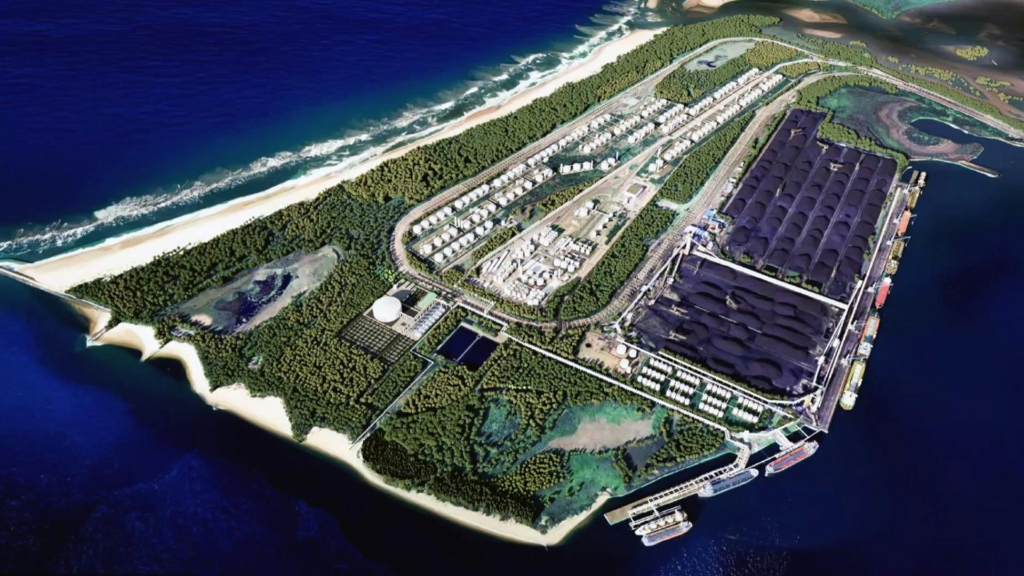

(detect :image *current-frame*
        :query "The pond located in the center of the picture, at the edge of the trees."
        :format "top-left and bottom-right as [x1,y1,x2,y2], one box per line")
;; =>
[433,326,498,370]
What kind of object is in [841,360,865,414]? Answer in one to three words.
ship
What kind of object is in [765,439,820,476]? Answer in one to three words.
ship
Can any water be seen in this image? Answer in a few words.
Yes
